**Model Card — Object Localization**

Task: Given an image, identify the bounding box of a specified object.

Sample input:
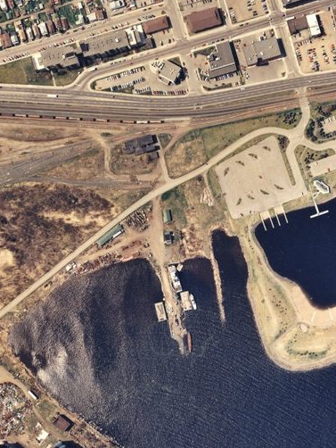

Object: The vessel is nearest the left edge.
[154,302,166,322]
